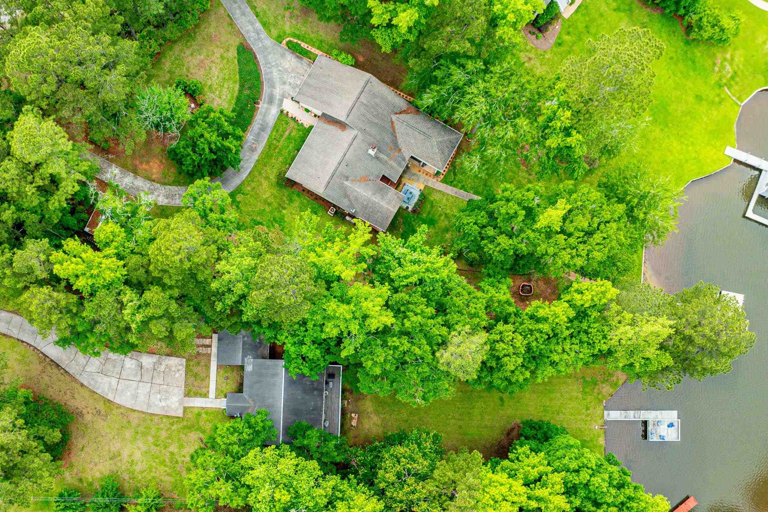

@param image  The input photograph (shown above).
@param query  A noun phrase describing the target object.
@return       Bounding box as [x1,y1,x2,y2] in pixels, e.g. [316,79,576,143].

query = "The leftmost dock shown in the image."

[605,411,684,442]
